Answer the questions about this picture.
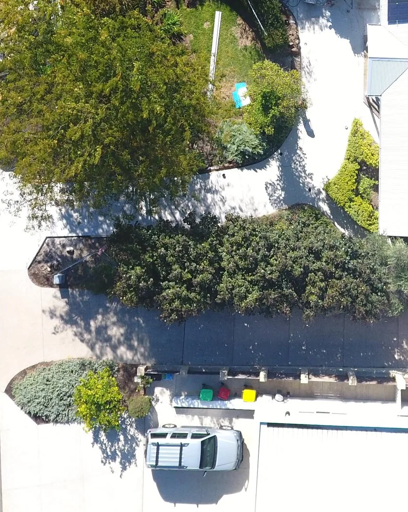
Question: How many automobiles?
1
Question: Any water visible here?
No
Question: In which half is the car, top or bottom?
bottom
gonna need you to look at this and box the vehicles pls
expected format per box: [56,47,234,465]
[146,419,250,474]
